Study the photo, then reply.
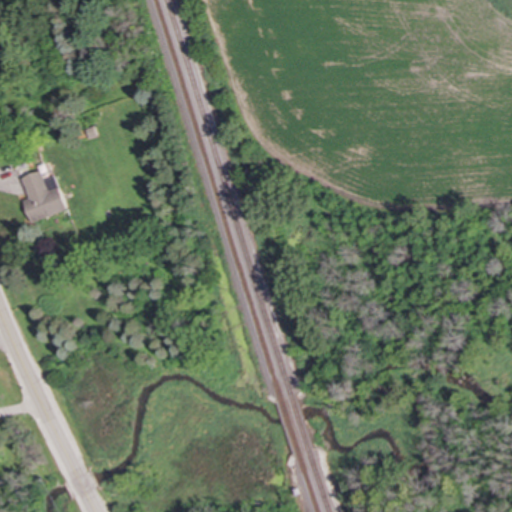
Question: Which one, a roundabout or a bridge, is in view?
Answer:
bridge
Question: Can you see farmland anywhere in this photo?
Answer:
Yes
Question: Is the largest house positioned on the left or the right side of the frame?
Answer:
left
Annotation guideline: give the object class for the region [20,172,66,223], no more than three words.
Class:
house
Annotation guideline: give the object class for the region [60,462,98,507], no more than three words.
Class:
bridge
